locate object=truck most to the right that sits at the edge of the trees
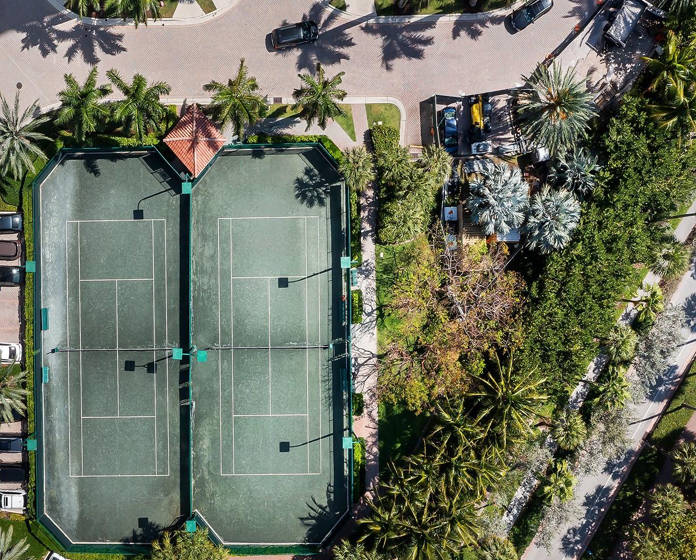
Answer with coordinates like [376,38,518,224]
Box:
[599,0,655,54]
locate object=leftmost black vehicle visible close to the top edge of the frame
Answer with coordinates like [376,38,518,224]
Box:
[272,17,321,48]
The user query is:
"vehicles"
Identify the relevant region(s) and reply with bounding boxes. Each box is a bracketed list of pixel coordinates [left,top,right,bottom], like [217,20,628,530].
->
[0,489,26,512]
[470,87,497,134]
[272,17,321,48]
[0,239,20,259]
[0,266,24,287]
[0,406,22,426]
[0,461,25,485]
[0,433,24,455]
[509,0,559,29]
[0,213,22,233]
[599,0,655,54]
[0,342,21,362]
[442,105,462,153]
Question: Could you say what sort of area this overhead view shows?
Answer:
sports ground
